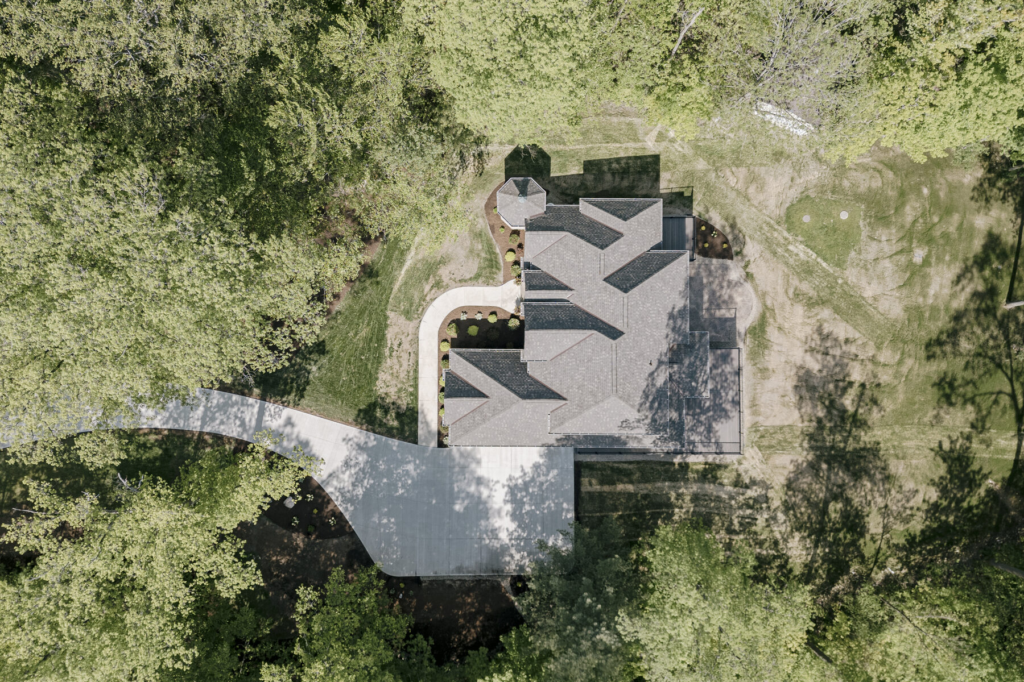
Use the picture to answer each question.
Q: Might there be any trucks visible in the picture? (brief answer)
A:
No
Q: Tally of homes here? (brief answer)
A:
one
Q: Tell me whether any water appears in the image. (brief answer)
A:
No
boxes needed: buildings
[443,177,710,447]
